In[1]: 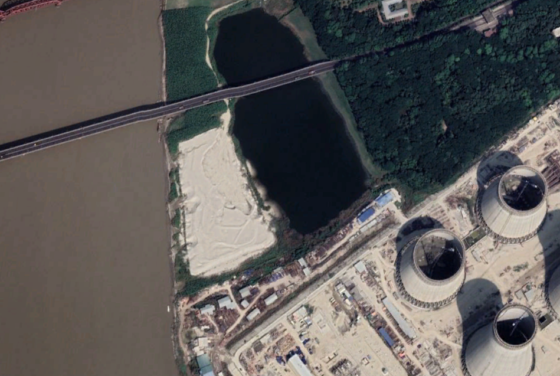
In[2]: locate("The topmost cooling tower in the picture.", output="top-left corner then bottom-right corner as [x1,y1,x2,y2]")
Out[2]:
[475,164,548,245]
